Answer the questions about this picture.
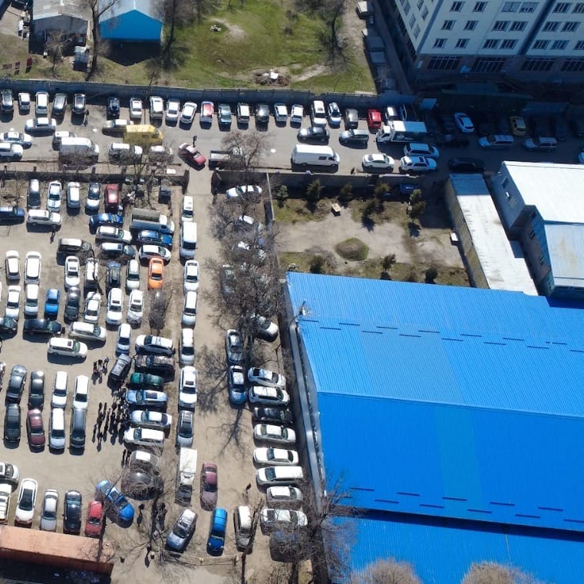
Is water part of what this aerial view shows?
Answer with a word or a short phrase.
No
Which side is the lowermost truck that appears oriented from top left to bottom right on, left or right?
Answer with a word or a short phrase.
left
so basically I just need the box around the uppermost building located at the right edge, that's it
[369,0,584,108]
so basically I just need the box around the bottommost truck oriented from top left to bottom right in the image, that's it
[94,477,137,526]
